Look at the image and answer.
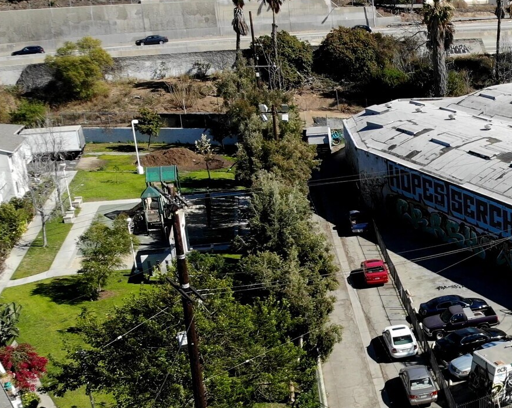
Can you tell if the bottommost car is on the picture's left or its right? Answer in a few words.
right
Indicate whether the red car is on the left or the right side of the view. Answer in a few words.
right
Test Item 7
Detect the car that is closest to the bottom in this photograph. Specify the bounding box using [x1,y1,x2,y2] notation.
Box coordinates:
[395,364,437,403]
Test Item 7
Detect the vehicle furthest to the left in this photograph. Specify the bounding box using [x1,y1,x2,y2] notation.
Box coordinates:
[8,41,46,57]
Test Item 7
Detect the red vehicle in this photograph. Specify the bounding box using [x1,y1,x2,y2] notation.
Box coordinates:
[359,254,388,281]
